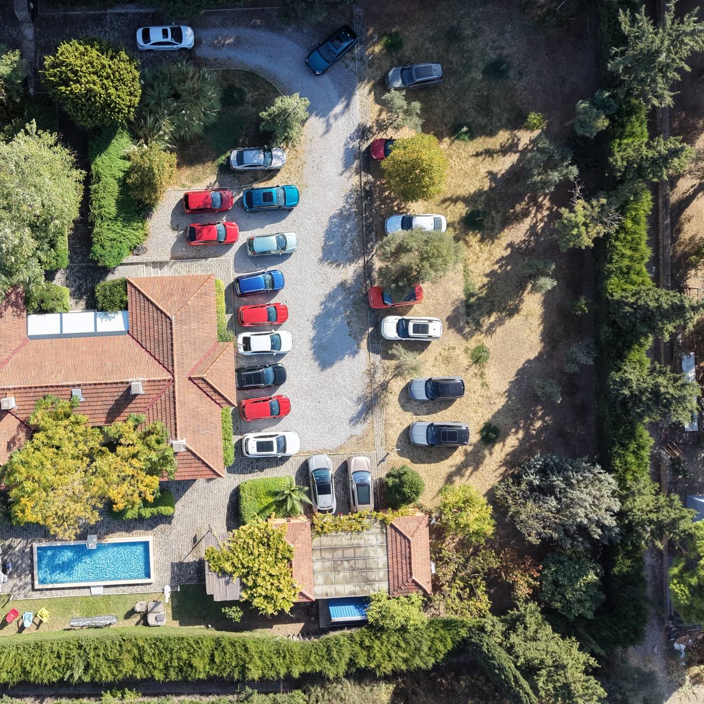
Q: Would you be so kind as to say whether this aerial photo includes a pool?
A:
Yes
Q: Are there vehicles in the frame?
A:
Yes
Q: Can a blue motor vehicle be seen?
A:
Yes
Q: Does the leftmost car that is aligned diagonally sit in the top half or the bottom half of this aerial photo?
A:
top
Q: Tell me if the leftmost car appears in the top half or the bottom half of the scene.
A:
top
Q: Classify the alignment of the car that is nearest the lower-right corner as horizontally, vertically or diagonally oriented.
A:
horizontally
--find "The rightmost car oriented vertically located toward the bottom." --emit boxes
[346,453,374,511]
